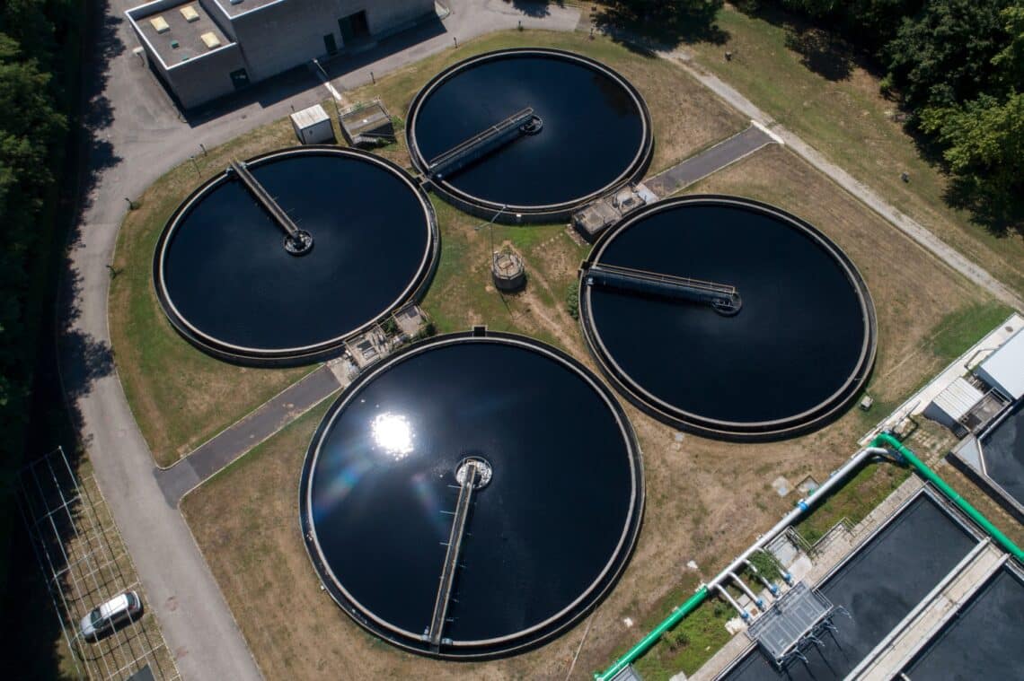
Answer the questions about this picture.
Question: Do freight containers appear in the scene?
No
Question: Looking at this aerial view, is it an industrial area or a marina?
industrial area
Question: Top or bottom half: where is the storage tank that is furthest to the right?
bottom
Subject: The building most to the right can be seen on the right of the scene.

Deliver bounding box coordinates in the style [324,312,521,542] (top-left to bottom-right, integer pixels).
[971,330,1024,400]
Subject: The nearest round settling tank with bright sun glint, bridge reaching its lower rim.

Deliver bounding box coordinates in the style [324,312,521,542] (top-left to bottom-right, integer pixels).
[300,324,646,662]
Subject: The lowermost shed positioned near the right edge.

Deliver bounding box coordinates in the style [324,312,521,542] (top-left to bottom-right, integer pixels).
[924,378,985,431]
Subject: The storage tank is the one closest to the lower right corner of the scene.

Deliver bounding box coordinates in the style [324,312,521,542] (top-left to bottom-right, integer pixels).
[943,397,1024,535]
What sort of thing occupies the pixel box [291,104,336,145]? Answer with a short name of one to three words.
building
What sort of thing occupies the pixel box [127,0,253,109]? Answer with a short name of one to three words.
building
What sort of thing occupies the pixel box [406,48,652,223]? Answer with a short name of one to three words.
storage tank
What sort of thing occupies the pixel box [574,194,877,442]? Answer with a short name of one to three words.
storage tank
